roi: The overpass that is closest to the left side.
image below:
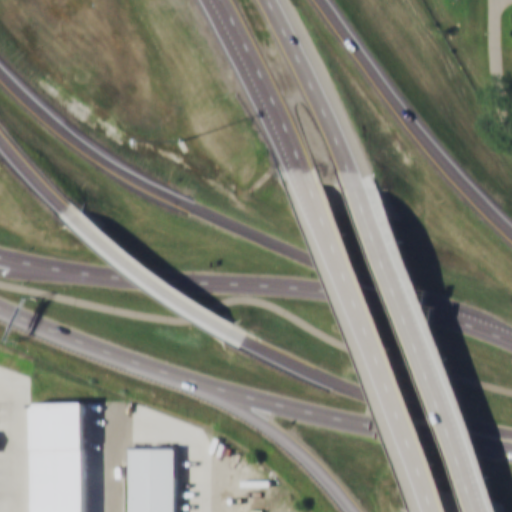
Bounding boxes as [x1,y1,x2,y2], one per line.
[60,202,248,348]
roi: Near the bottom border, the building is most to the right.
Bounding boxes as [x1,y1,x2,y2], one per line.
[127,448,175,512]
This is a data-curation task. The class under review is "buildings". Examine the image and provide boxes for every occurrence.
[127,448,175,512]
[28,402,82,512]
